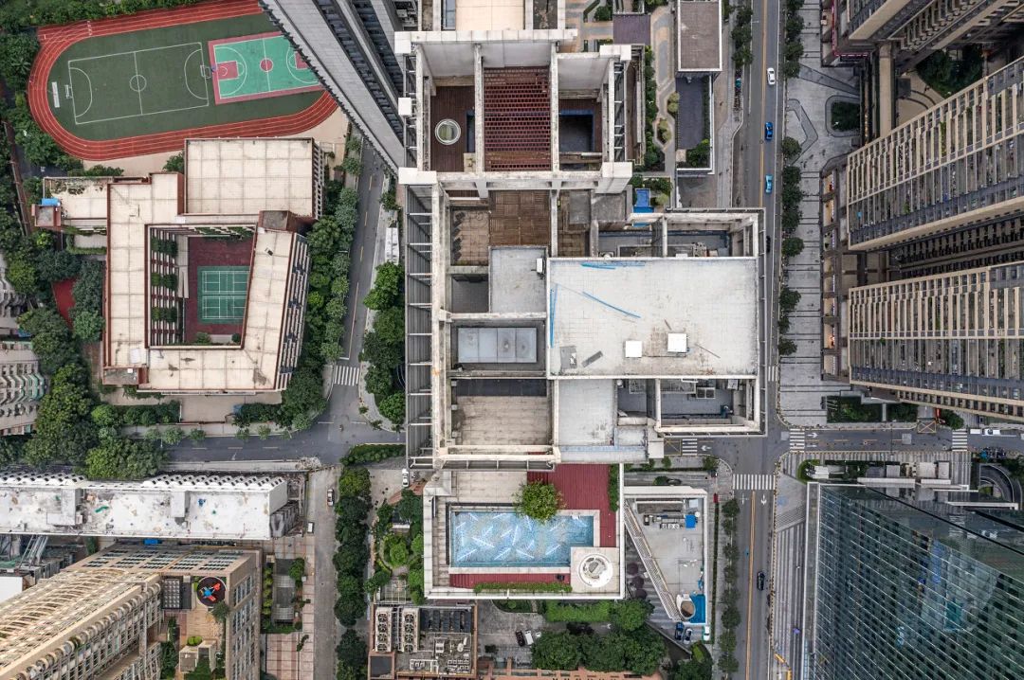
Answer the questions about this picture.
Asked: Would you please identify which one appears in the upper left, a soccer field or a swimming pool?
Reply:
soccer field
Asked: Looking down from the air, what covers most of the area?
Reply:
buildings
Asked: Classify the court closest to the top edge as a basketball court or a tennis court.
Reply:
basketball court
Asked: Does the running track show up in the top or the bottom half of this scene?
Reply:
top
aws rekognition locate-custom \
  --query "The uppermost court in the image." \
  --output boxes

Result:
[208,31,323,103]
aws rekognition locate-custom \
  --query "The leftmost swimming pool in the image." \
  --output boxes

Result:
[448,506,602,573]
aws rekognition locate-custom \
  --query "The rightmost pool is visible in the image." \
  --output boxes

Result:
[690,593,704,621]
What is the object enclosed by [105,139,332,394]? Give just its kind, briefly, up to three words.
building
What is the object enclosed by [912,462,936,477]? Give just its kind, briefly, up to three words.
shed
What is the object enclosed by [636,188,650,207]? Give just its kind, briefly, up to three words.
swimming pool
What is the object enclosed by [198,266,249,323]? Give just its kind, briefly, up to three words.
sports court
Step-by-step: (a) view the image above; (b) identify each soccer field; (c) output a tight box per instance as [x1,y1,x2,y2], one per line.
[47,13,323,138]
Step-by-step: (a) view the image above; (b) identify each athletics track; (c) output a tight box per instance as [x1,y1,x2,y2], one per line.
[28,0,336,157]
